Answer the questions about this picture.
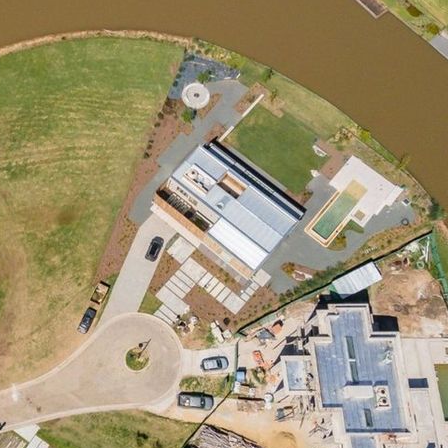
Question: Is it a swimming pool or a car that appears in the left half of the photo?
car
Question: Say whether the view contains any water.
Yes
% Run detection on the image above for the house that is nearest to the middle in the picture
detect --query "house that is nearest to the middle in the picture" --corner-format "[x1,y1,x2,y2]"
[150,136,309,275]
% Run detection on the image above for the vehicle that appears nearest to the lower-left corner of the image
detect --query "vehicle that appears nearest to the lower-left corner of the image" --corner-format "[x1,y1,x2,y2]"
[76,305,98,336]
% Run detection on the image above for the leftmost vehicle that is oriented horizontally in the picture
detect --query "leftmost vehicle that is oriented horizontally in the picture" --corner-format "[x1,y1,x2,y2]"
[176,394,213,412]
